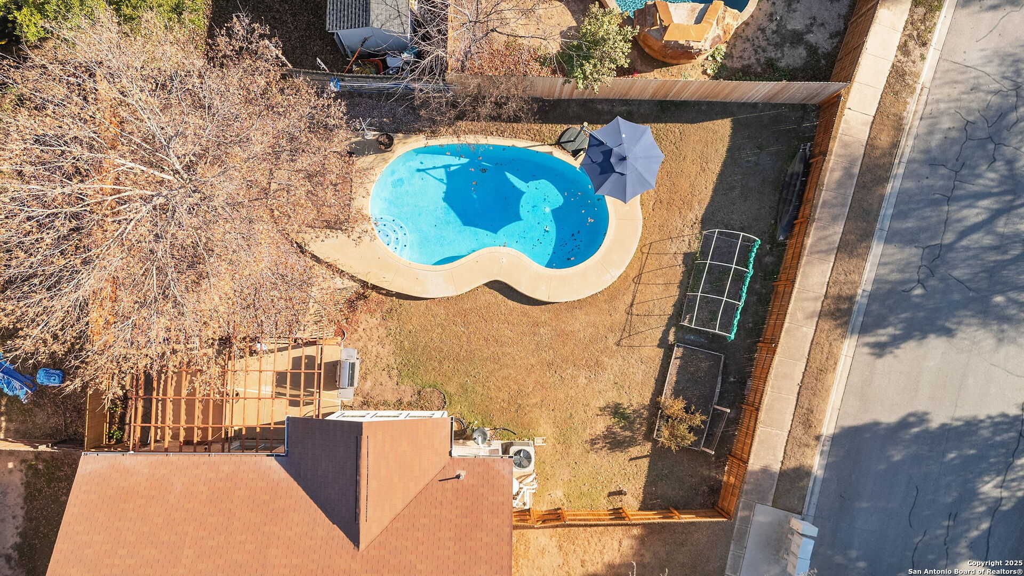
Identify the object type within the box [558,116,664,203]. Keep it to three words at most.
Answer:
umbrella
